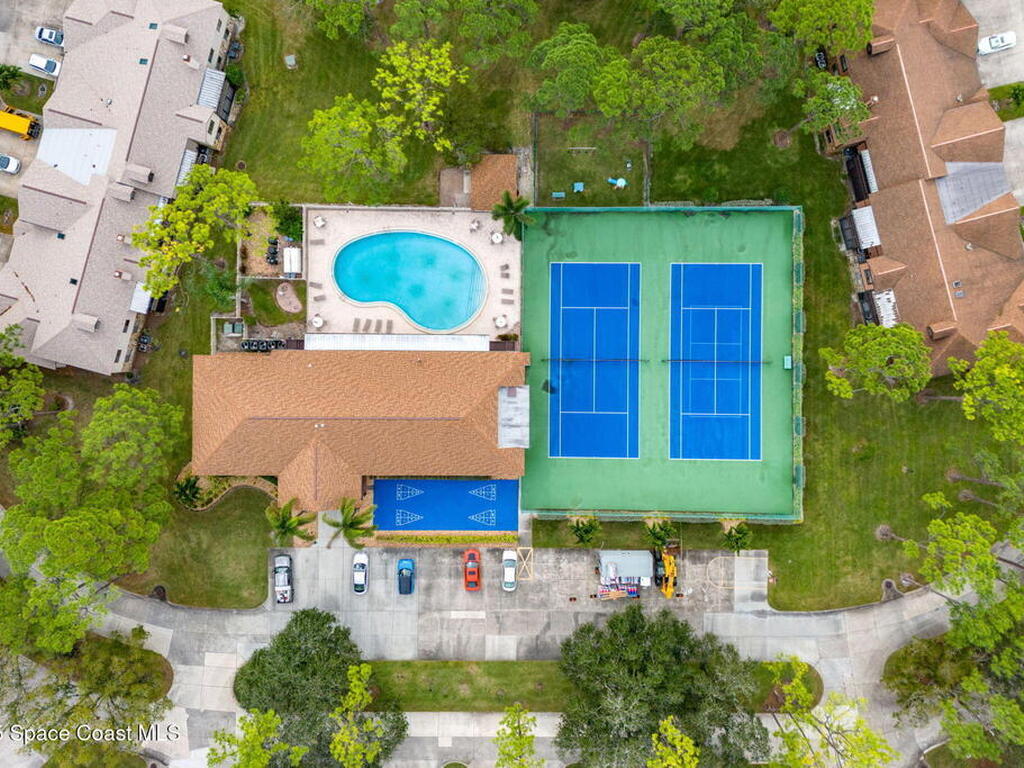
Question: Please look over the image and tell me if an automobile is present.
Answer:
Yes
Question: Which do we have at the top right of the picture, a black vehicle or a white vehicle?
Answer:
white vehicle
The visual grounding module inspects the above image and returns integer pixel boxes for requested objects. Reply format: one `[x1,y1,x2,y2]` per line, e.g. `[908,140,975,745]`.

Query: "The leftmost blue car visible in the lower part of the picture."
[396,557,415,594]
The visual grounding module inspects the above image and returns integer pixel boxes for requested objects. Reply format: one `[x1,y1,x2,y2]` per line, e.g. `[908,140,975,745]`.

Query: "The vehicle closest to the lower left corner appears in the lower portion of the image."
[273,555,294,602]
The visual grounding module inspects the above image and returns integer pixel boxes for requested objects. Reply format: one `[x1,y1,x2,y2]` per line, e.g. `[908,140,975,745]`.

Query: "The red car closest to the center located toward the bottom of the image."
[462,548,481,590]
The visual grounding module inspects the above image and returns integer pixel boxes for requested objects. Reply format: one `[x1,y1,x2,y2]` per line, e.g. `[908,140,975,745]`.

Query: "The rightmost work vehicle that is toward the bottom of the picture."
[654,541,677,598]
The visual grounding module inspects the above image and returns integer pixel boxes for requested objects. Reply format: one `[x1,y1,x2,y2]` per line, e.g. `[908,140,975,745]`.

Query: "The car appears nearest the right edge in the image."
[977,32,1016,57]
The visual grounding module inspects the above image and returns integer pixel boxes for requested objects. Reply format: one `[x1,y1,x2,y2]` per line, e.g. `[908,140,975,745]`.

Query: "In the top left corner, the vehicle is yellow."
[0,107,41,144]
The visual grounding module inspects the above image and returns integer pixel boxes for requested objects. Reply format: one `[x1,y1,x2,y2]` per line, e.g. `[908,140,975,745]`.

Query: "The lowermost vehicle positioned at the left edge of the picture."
[0,154,26,174]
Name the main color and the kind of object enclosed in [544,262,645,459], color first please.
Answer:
blue tennis court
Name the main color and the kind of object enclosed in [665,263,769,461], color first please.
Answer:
blue tennis court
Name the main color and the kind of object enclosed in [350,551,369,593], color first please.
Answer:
white car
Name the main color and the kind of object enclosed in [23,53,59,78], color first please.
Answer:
white car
